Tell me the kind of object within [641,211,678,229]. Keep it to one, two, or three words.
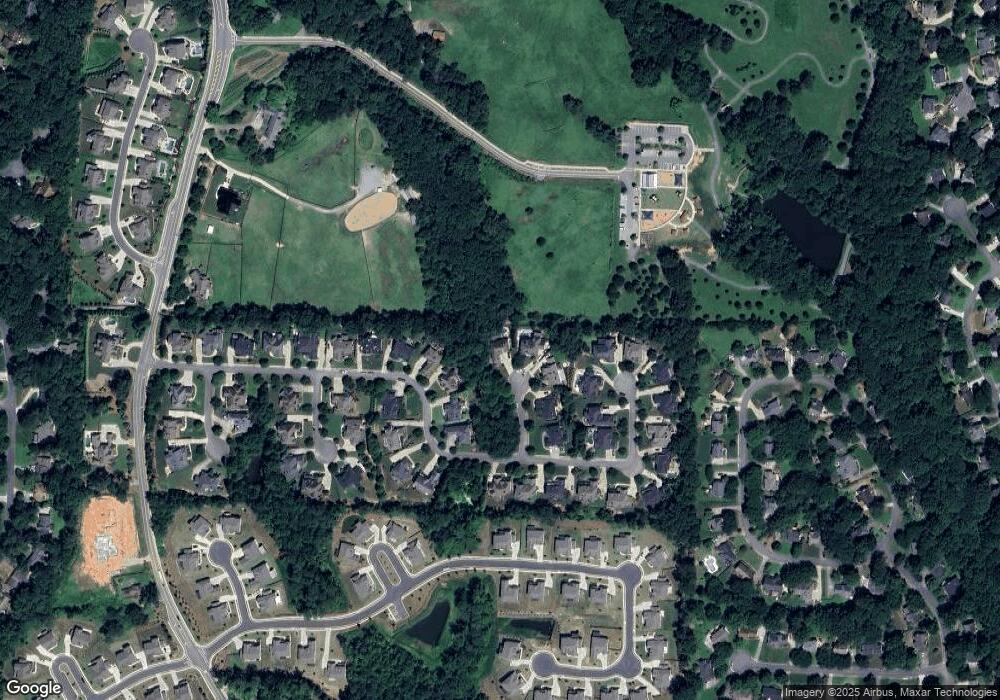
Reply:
playground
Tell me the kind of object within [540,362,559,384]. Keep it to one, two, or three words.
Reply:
house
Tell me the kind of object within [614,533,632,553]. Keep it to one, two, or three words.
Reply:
house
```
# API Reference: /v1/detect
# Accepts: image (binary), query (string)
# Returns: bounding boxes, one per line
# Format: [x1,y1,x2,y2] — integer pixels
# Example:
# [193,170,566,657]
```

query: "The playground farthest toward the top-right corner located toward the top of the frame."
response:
[657,172,686,186]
